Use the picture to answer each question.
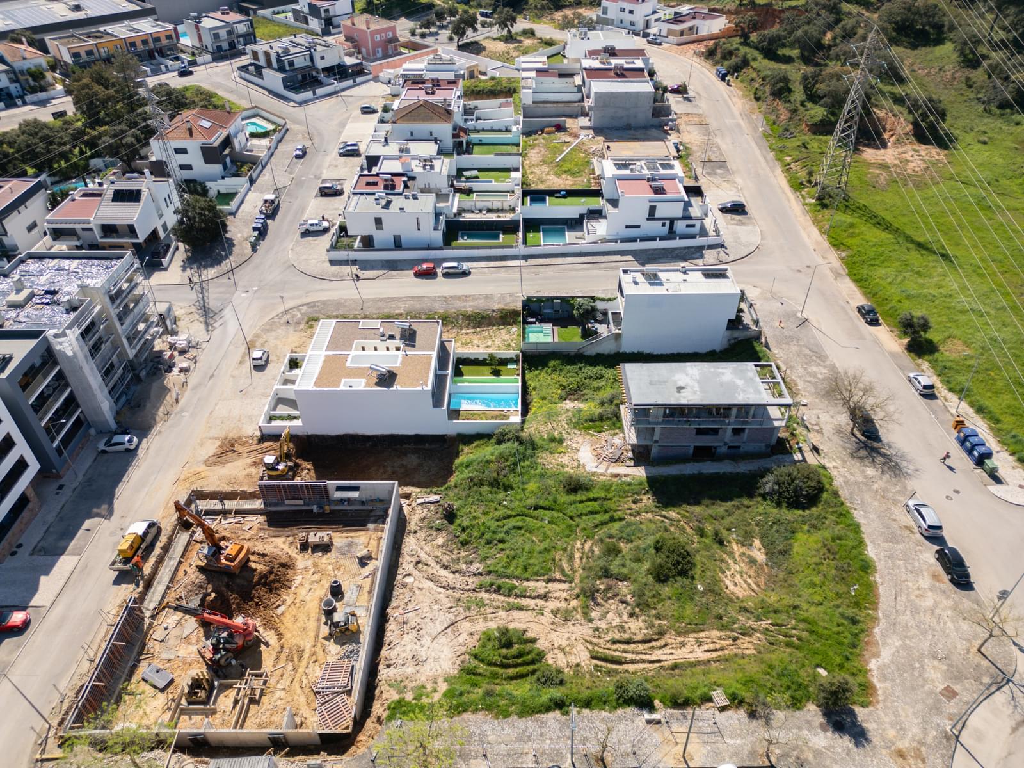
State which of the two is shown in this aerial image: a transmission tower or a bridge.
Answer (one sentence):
The one in the frame is a transmission tower.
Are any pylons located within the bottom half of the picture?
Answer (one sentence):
No, there is no pylon within the bottom half of the picture.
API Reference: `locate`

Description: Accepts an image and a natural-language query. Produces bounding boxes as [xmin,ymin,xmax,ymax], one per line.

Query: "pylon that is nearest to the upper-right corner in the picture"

[817,24,899,200]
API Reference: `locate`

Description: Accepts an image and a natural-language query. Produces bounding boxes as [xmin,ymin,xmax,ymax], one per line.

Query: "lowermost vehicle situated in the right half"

[926,542,981,589]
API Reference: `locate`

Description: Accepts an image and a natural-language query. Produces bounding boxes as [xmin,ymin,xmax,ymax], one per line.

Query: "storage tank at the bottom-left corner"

[139,663,175,697]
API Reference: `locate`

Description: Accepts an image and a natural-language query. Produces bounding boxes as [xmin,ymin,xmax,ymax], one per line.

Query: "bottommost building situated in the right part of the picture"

[609,364,792,457]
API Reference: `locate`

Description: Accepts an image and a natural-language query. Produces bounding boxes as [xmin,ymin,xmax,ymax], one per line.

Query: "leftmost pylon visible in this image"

[147,79,195,204]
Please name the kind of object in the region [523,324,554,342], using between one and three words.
swimming pool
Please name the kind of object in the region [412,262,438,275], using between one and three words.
vehicle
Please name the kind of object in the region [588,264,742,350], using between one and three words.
house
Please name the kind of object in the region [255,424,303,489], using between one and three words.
work vehicle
